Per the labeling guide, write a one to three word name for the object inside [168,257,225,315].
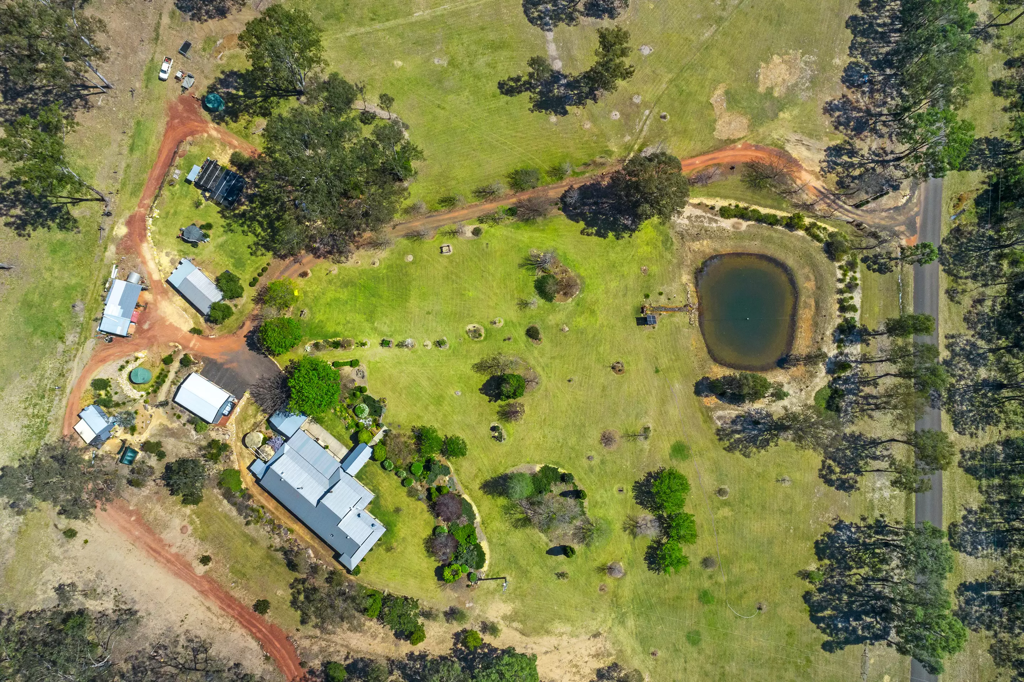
shed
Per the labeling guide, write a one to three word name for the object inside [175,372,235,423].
building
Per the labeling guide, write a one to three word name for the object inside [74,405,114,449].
house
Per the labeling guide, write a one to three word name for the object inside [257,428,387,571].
house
